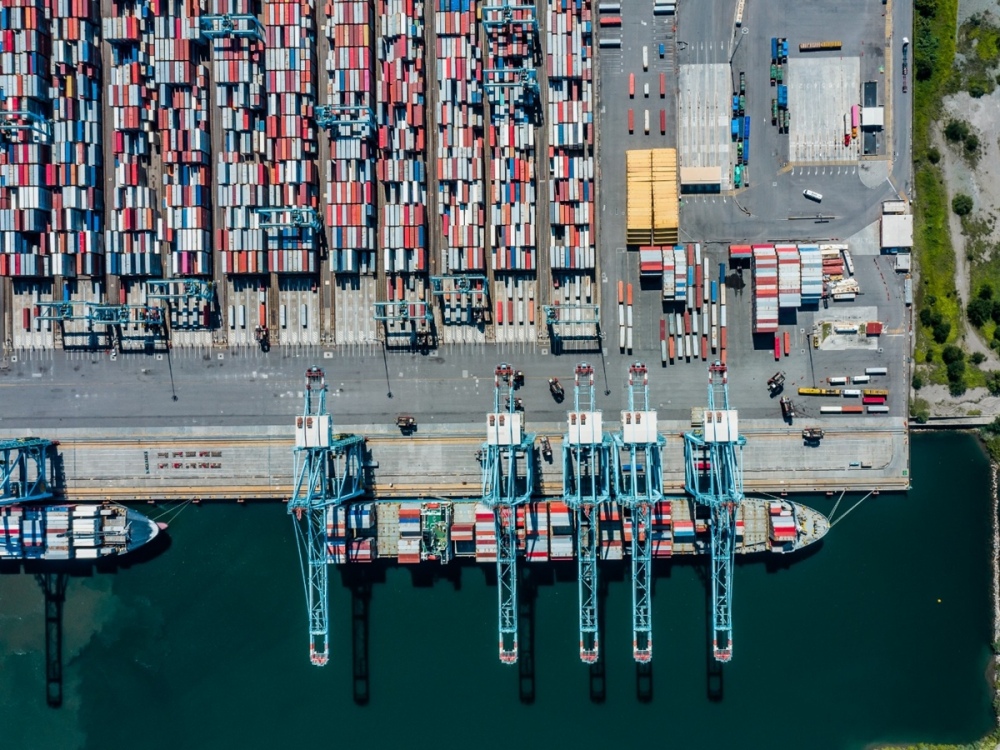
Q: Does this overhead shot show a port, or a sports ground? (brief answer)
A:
port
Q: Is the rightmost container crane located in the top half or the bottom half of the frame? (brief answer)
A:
bottom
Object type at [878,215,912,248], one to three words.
shed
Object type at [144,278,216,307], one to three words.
container crane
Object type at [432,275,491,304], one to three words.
container crane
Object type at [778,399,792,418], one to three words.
vehicle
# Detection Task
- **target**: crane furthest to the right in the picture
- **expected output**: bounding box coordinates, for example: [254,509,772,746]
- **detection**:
[674,362,746,661]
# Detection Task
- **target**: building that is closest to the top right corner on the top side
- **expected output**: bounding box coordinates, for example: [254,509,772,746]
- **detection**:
[862,82,877,107]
